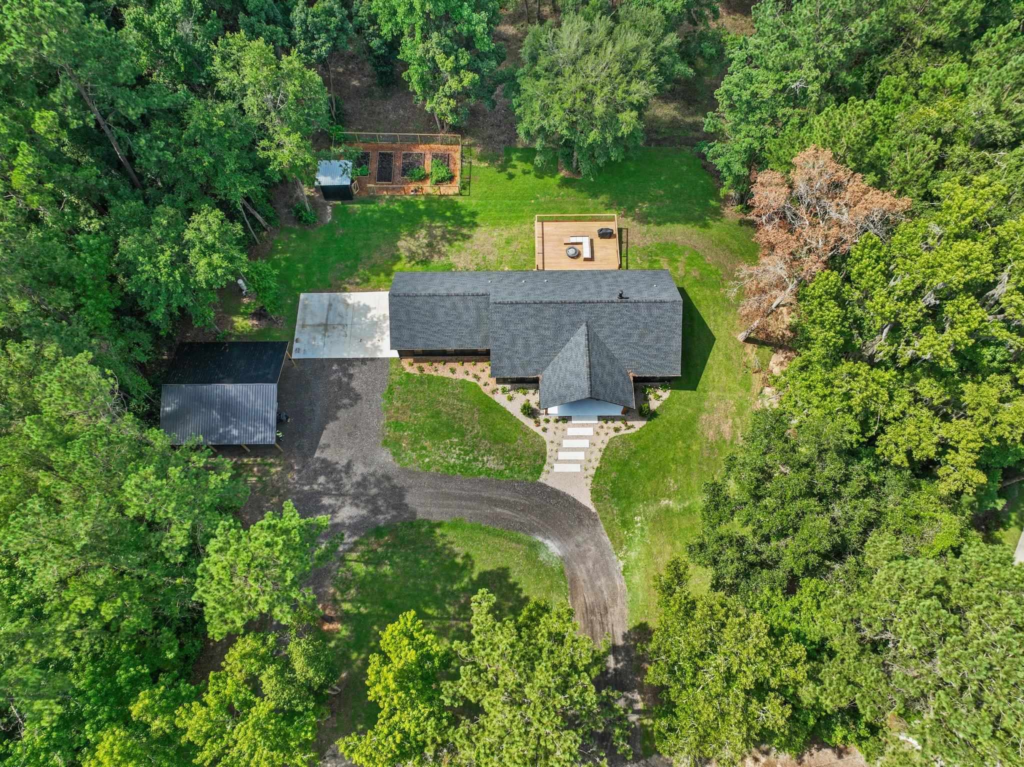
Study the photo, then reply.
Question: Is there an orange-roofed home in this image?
No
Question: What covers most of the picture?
trees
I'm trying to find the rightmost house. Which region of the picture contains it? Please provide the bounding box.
[387,270,684,417]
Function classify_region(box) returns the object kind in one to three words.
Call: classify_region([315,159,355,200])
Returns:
shed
